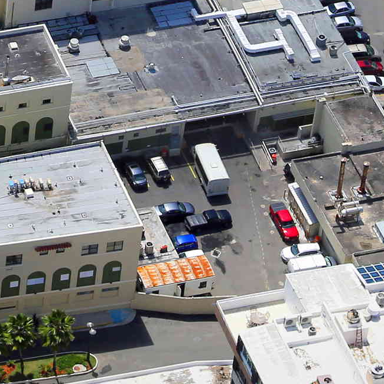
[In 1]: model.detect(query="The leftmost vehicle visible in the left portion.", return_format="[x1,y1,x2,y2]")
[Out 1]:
[124,159,148,194]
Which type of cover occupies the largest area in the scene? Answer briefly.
buildings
